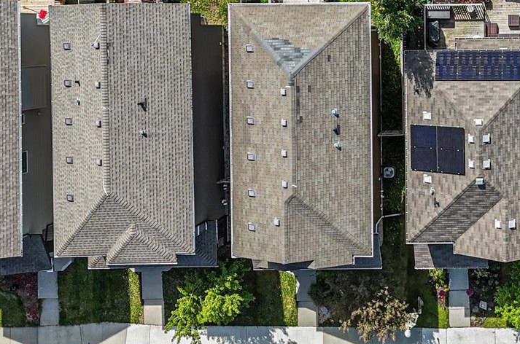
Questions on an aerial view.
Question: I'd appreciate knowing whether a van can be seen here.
No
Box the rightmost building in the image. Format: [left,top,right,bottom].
[404,38,520,269]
